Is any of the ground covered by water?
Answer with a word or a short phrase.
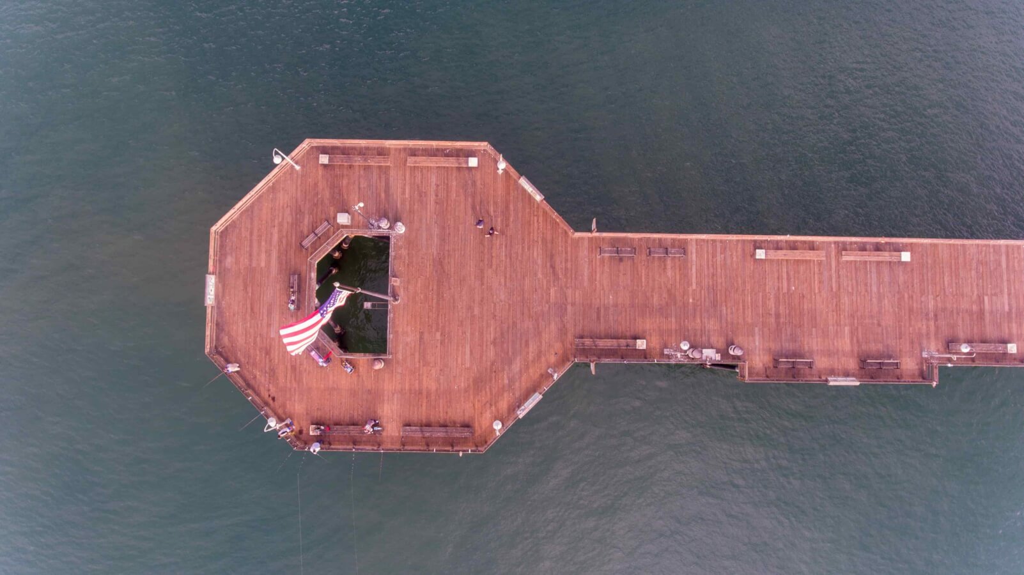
Yes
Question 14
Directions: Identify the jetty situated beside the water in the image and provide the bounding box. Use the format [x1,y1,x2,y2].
[205,139,1024,455]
